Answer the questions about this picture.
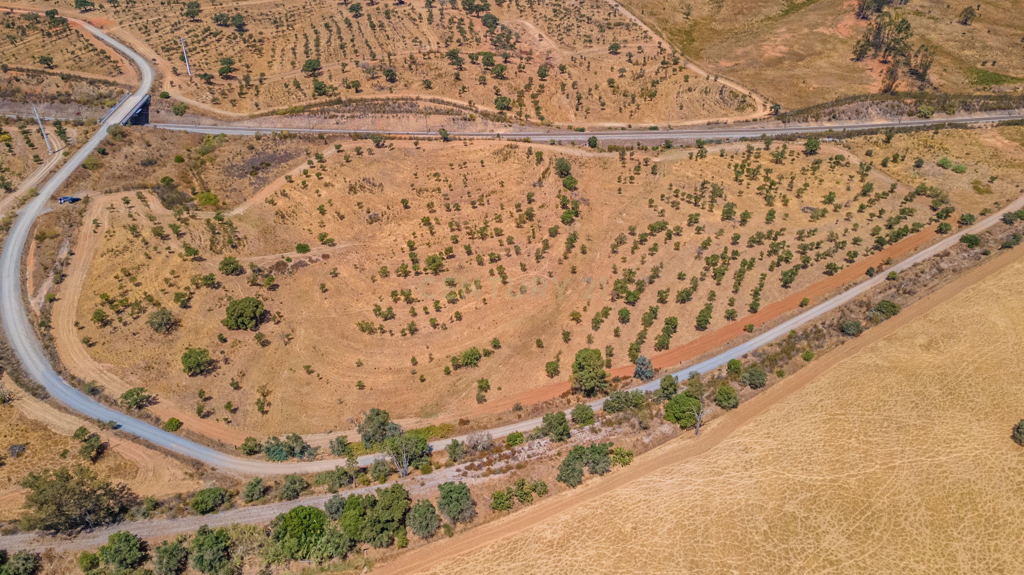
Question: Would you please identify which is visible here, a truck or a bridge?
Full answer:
It is a bridge that can be seen here.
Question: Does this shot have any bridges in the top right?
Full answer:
No, in the top right there is no bridge.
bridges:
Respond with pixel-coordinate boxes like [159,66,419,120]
[100,94,149,126]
